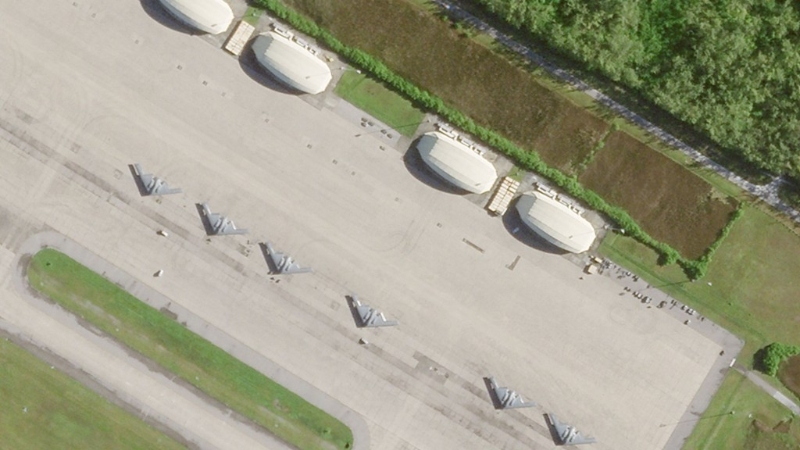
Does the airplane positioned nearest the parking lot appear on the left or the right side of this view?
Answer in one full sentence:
The airplane positioned nearest the parking lot appears in the right half of the scene.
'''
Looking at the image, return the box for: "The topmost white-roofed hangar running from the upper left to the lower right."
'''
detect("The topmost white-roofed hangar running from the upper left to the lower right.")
[248,31,328,95]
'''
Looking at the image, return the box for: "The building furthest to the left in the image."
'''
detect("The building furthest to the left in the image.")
[155,0,228,31]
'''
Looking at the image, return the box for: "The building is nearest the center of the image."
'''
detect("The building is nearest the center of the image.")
[415,134,493,196]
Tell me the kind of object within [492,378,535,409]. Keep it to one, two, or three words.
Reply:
airplane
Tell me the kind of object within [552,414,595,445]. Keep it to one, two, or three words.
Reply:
airplane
